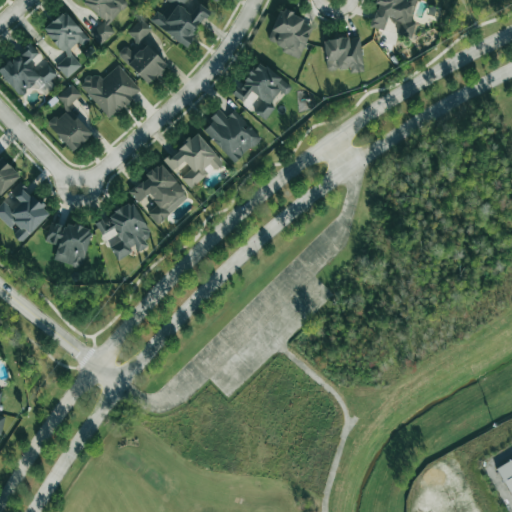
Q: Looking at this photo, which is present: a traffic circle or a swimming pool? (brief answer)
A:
swimming pool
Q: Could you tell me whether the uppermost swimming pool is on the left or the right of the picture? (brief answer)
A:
right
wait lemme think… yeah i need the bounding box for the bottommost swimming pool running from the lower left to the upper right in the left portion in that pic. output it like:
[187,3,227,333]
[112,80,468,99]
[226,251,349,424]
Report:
[168,199,194,225]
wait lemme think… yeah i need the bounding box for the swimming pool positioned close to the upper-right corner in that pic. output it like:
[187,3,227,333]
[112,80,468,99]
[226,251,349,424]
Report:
[414,0,437,24]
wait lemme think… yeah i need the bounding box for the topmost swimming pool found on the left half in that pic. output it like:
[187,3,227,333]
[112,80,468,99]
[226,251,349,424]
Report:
[25,80,50,107]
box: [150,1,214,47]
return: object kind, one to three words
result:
house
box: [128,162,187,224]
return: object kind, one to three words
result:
house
